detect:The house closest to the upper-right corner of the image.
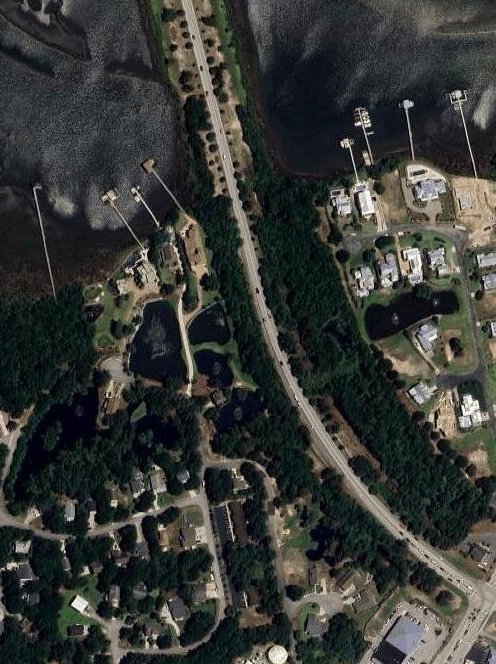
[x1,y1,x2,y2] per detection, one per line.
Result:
[413,180,446,201]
